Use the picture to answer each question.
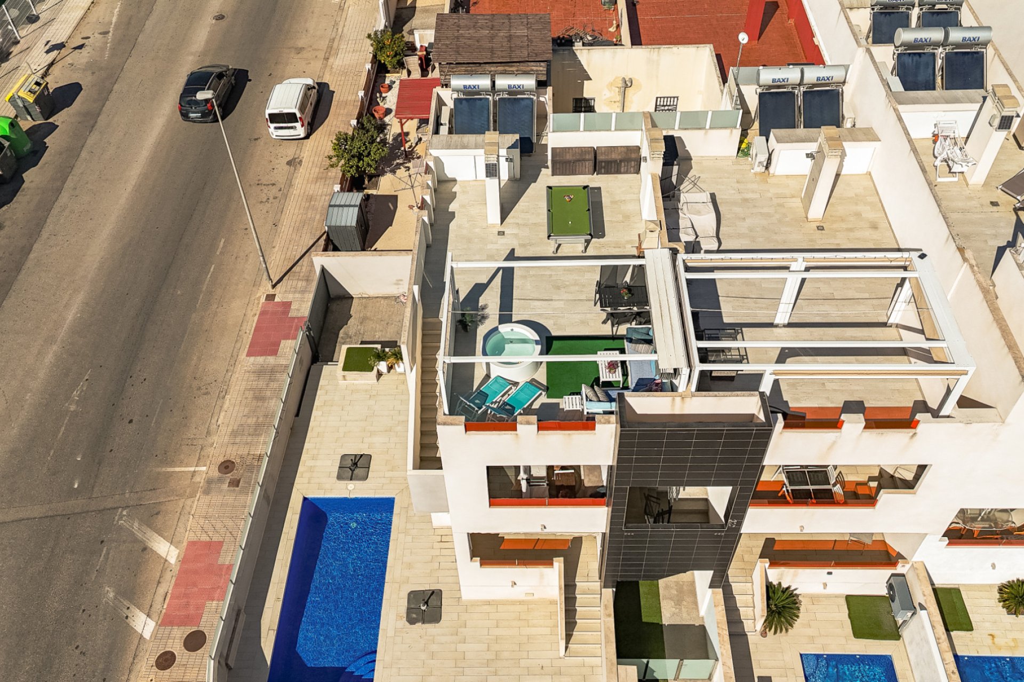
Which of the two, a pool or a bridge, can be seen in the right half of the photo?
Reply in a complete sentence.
Looking in the right half of the photo, you will find a pool.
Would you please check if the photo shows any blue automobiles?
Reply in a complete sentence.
No, there's no blue automobile here.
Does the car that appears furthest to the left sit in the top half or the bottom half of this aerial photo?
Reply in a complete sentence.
The car that appears furthest to the left is in the top half of the image.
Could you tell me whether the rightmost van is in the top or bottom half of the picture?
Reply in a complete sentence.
The rightmost van is in the top half of the image.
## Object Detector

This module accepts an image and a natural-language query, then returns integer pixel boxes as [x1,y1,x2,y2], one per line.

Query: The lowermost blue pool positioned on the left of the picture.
[267,497,395,682]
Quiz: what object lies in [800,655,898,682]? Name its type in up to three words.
swimming pool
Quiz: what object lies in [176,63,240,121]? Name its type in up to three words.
car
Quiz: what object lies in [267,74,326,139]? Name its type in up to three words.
van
